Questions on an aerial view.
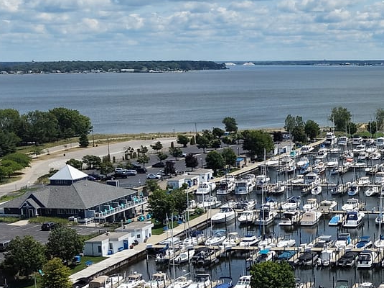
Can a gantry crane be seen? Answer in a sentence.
No, there is no gantry crane in the image.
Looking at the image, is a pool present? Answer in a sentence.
No, no pool is visible in the scene.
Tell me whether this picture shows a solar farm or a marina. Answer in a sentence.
This image shows a marina.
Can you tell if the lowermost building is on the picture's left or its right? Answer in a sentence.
The lowermost building is on the left side of the image.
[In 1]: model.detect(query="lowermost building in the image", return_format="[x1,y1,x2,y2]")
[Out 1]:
[82,220,158,256]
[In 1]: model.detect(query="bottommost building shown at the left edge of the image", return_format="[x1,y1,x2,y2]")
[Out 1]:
[0,165,145,220]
